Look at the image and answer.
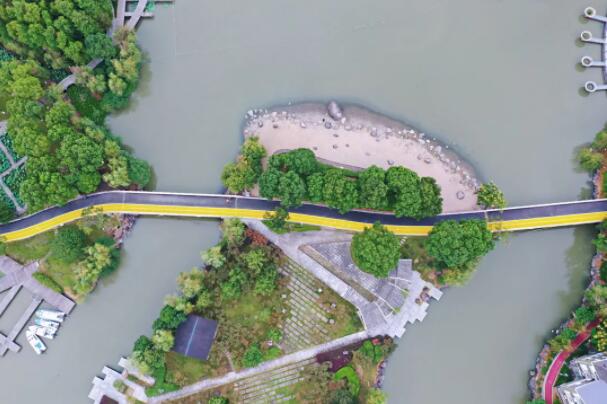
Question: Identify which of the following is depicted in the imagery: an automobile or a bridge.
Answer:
bridge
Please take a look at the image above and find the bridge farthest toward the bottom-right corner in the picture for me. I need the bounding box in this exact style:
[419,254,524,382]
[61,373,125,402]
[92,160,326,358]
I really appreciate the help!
[489,199,600,232]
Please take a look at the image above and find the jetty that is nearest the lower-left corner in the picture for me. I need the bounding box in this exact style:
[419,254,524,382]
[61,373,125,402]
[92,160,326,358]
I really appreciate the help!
[0,256,76,360]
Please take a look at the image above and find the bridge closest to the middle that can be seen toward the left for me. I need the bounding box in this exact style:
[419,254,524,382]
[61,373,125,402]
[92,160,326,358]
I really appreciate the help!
[147,191,222,219]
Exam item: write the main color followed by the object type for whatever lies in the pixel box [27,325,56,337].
white boat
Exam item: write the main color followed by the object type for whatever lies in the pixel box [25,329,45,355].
white boat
